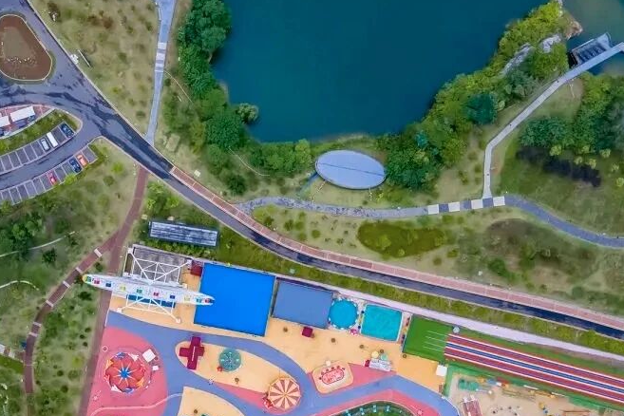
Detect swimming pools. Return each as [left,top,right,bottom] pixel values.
[330,299,360,329]
[361,305,403,341]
